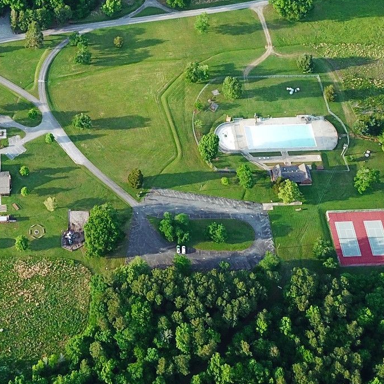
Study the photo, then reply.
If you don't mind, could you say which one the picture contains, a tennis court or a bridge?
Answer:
tennis court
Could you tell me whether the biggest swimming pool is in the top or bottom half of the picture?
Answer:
top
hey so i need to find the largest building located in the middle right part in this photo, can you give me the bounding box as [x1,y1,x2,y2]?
[272,162,314,186]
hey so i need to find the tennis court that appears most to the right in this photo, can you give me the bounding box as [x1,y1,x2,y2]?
[364,220,384,256]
